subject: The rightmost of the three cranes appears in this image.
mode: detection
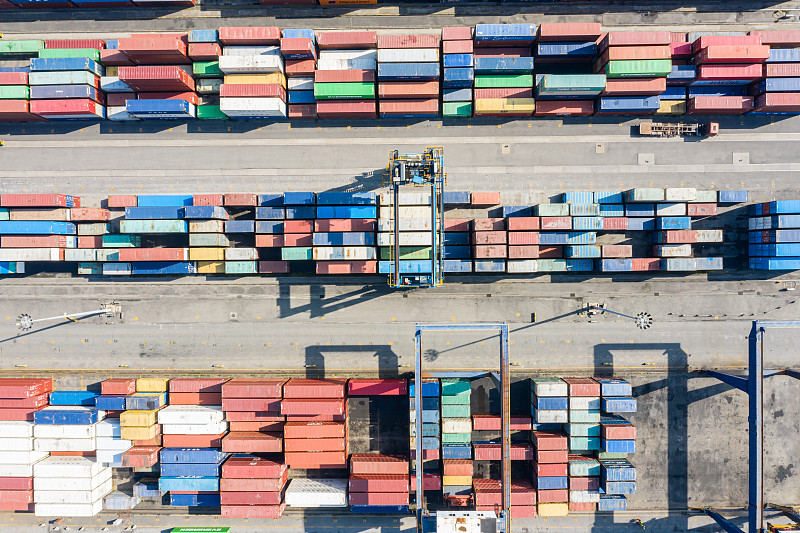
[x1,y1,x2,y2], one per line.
[694,326,800,533]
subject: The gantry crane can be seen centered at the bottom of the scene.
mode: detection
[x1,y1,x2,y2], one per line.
[403,327,510,533]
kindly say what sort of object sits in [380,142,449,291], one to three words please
container crane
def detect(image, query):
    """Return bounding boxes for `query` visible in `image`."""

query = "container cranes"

[403,327,510,533]
[694,326,800,533]
[380,142,449,291]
